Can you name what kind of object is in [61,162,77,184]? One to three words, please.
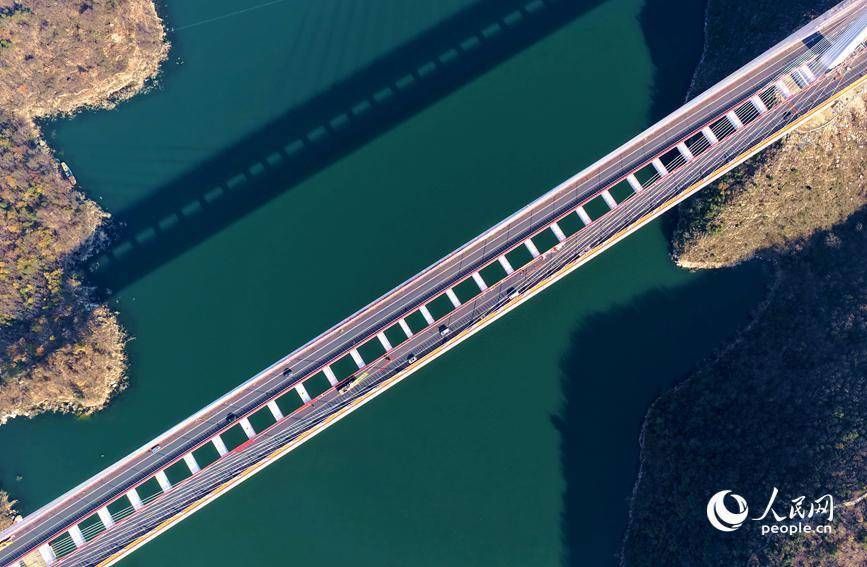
boat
